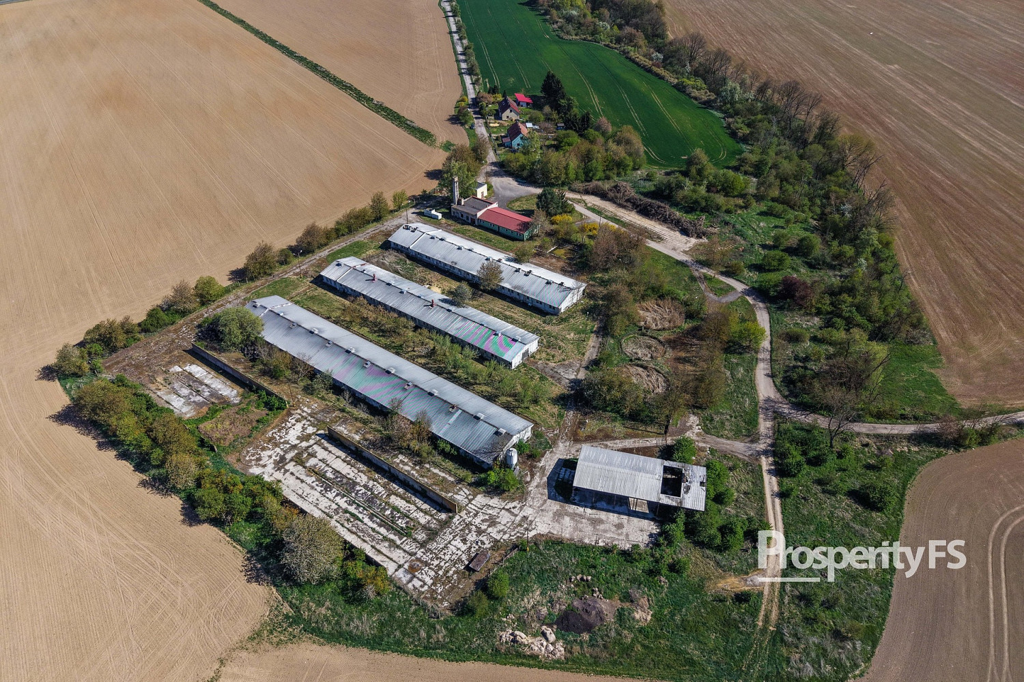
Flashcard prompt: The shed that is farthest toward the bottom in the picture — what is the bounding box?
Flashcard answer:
[573,445,712,519]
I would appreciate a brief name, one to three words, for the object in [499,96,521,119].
house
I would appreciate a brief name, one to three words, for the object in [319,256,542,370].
barn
